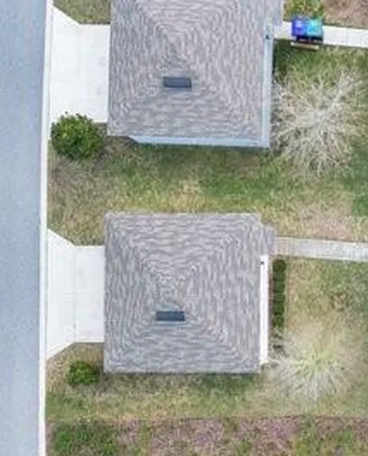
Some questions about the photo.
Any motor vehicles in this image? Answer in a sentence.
No, there is no motor vehicle in the image.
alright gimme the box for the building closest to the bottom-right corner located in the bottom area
[104,211,277,374]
